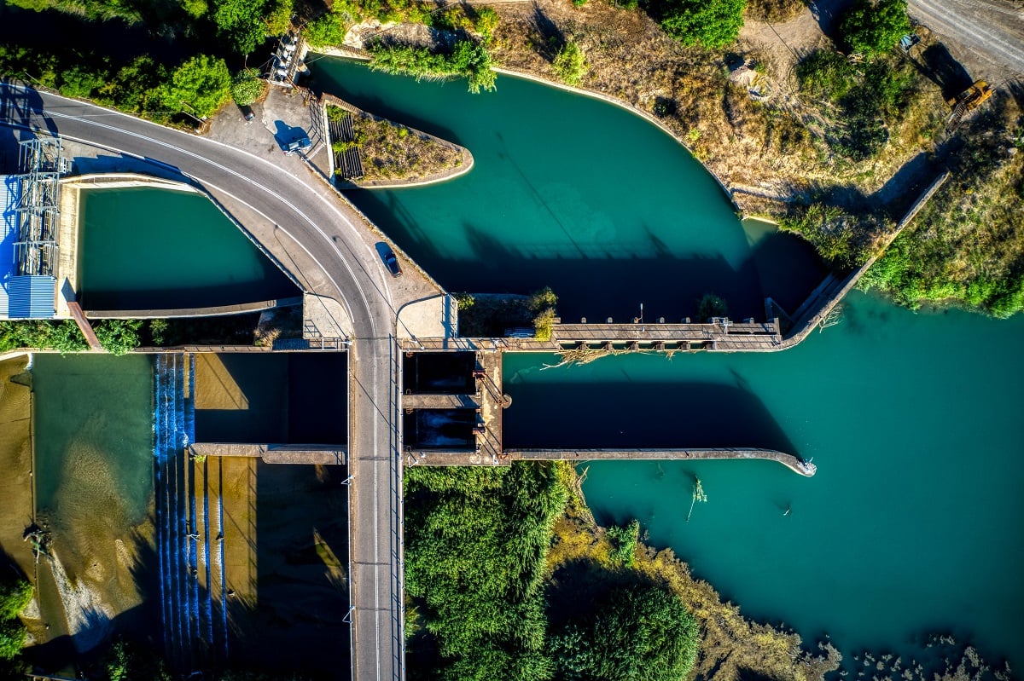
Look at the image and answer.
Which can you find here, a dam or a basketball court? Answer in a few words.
dam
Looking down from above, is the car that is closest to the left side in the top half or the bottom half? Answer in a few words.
top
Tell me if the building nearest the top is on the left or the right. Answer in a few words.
left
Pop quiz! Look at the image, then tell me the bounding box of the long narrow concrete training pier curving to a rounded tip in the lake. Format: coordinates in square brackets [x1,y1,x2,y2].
[502,446,815,477]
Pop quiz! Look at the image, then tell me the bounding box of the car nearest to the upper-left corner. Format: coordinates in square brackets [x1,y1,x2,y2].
[279,135,312,156]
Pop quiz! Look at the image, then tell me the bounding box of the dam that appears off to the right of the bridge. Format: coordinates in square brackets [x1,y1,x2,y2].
[551,317,780,352]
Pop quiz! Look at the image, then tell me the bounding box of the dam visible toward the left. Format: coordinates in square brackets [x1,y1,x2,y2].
[156,351,406,681]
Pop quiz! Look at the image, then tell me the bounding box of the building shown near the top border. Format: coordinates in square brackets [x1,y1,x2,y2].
[262,30,321,91]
